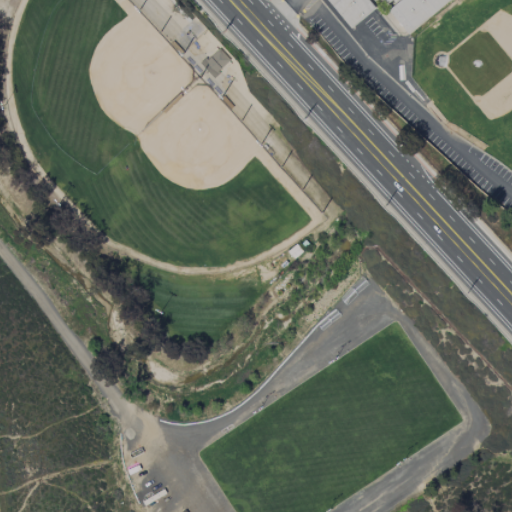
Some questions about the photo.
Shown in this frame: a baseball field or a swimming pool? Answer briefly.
baseball field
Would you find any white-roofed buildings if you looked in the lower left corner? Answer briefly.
No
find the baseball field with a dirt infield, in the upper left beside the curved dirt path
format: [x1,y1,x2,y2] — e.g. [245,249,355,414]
[12,0,200,202]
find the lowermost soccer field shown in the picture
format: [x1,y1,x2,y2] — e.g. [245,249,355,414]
[200,322,464,512]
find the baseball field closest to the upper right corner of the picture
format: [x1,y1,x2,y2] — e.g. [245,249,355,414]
[415,0,512,164]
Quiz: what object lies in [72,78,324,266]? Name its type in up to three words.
baseball field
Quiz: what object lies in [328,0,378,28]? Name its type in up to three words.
building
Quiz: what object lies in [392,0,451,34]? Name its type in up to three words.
building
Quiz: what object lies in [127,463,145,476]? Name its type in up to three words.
vehicle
